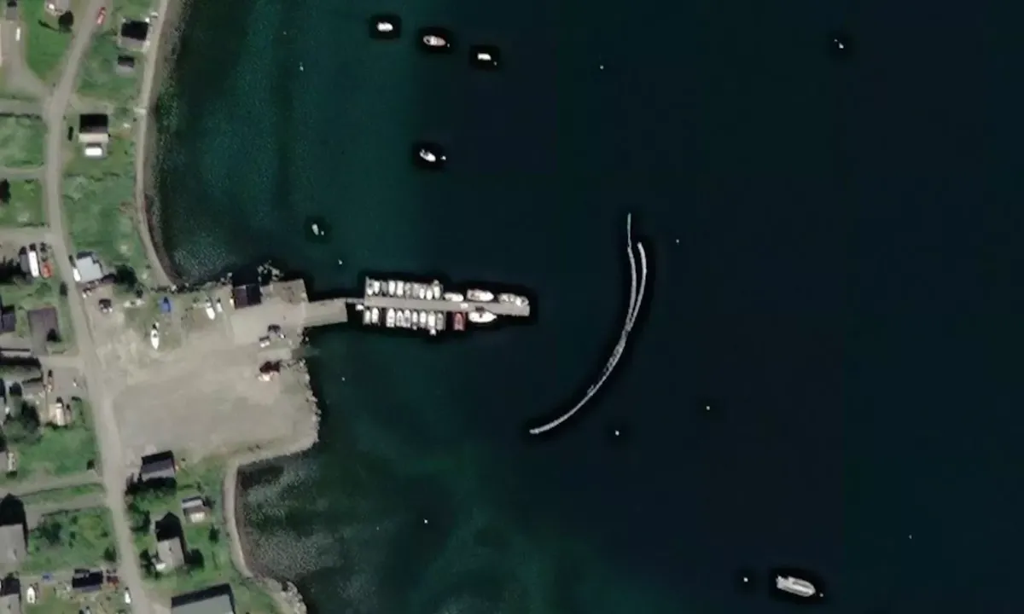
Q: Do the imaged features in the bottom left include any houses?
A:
Yes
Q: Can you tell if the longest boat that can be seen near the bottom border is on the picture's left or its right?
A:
right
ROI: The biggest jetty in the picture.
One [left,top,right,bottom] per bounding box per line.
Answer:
[365,276,530,329]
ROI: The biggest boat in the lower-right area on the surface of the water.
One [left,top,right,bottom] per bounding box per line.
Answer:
[774,575,815,596]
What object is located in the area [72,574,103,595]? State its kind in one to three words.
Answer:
house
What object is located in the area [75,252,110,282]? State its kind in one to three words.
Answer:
building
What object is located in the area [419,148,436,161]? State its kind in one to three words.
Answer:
boat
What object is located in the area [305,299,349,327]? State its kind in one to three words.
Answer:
pier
